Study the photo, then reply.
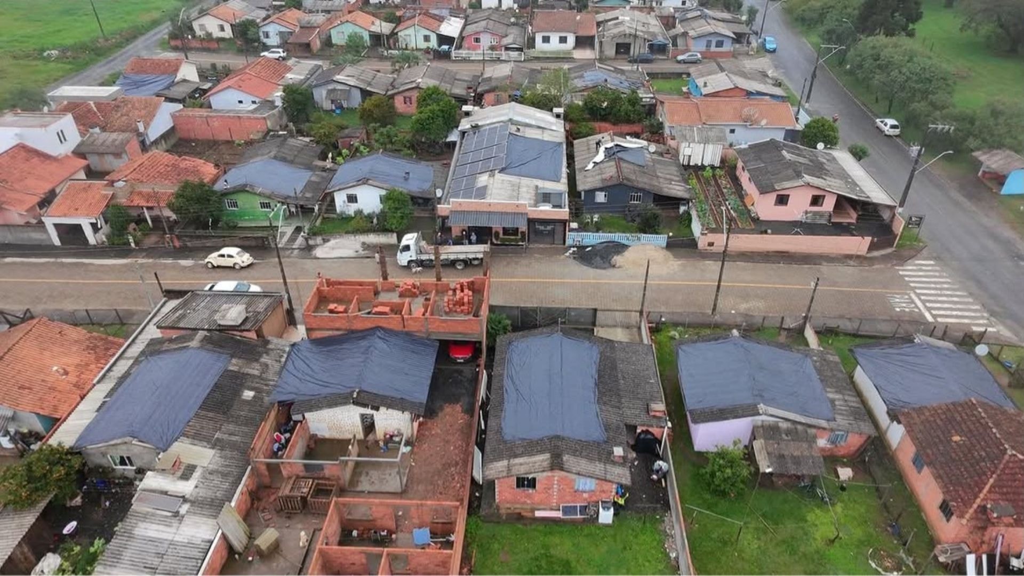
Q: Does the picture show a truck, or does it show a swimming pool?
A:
truck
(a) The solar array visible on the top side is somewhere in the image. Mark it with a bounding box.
[451,123,509,198]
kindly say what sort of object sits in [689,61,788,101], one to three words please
house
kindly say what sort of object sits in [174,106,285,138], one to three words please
building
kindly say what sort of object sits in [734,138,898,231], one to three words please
house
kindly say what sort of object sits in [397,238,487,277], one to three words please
truck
